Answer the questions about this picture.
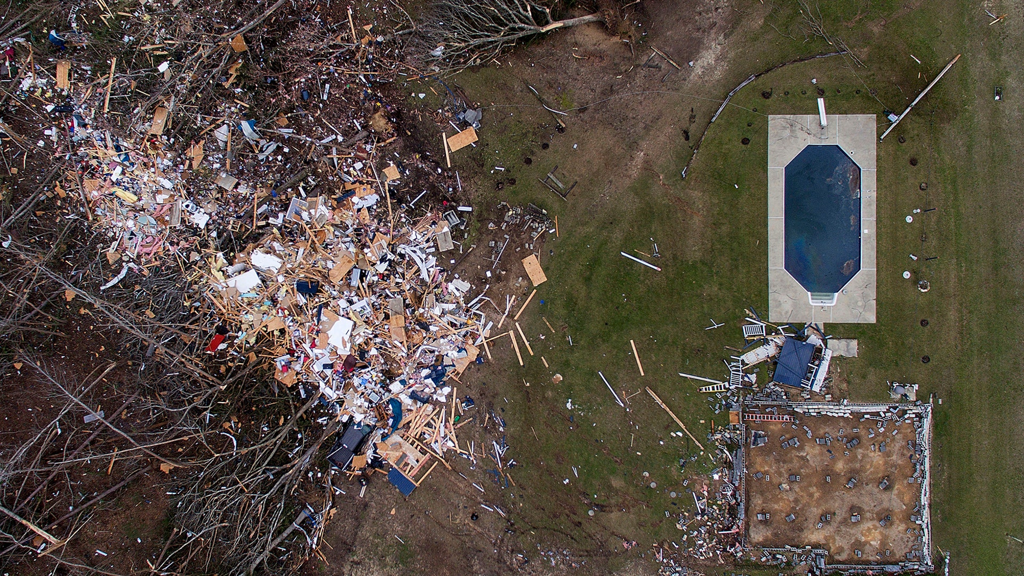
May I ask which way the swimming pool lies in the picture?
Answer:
vertically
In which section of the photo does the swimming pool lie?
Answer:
right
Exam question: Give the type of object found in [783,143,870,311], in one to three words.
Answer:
swimming pool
